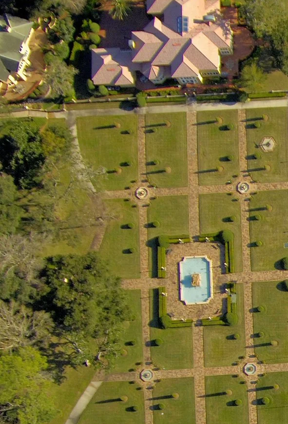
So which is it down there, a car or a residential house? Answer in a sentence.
Of the two, only a residential house appears.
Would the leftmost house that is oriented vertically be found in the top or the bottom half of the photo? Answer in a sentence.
You can find the leftmost house that is oriented vertically in the top half.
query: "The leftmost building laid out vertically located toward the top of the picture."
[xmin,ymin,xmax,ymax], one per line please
[0,13,40,101]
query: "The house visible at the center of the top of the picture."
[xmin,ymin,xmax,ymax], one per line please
[92,0,236,87]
